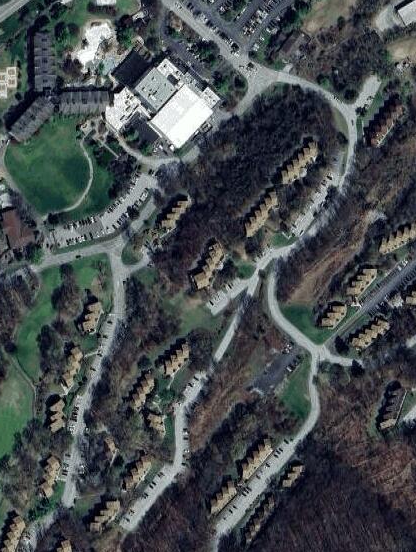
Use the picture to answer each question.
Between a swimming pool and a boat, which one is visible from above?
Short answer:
swimming pool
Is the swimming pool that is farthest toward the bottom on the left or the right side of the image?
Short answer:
left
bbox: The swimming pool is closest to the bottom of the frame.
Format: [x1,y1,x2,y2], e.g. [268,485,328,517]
[67,18,129,86]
